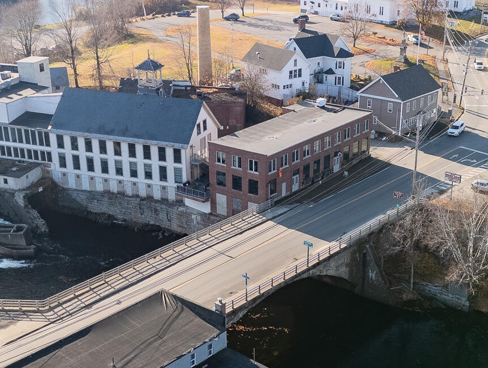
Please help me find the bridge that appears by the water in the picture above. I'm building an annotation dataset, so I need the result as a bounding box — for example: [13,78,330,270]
[0,198,416,337]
